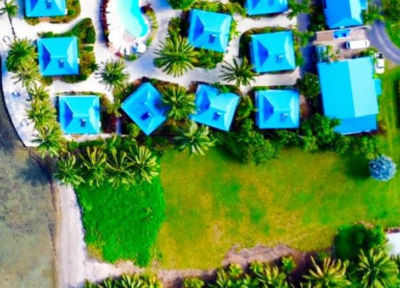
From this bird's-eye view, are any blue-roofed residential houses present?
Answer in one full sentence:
Yes, you can see a blue-roofed residential house in this photo.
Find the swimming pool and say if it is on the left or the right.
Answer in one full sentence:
The swimming pool appears in the left half of the scene.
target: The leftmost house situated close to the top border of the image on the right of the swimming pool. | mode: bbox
[183,10,232,52]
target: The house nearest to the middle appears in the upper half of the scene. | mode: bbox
[186,84,239,127]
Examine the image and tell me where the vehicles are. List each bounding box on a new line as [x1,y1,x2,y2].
[371,54,384,75]
[343,39,366,49]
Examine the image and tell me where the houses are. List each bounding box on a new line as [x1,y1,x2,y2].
[21,0,65,17]
[383,229,400,260]
[237,0,286,15]
[34,37,79,75]
[56,95,100,133]
[320,0,366,28]
[253,90,298,128]
[186,84,239,127]
[246,31,294,72]
[117,83,167,134]
[183,10,232,52]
